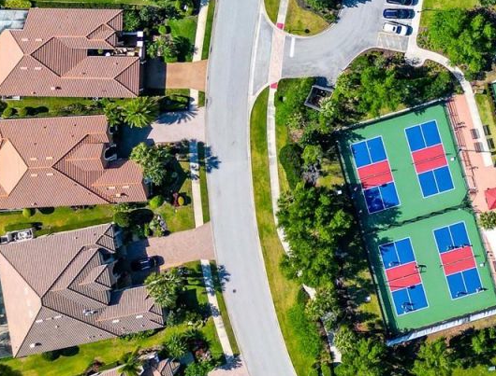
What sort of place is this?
residential area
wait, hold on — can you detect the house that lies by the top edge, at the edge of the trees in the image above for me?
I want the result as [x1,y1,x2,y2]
[0,8,143,98]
